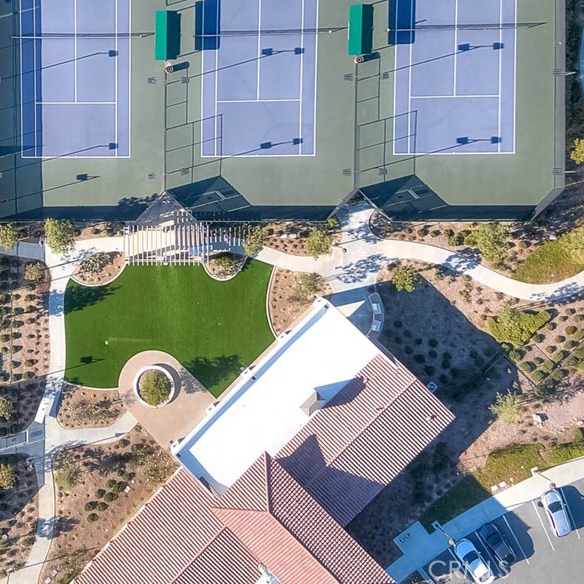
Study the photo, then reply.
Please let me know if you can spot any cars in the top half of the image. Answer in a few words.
No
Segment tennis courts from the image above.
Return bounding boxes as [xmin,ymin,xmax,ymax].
[0,0,167,219]
[354,0,555,219]
[166,0,358,220]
